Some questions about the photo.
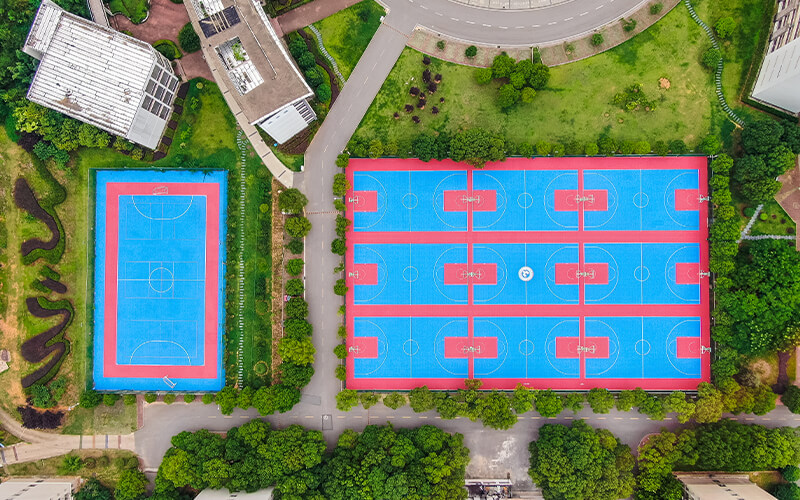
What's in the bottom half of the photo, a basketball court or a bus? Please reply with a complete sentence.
It is a basketball court that can be seen in the bottom half of the photo.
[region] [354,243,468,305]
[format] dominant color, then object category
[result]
blue basketball court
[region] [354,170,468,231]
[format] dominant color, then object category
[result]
blue basketball court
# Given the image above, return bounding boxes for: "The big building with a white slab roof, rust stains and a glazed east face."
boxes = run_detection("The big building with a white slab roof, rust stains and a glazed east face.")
[24,0,177,147]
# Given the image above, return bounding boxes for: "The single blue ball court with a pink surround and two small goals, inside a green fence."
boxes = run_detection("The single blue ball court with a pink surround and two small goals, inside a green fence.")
[94,170,227,391]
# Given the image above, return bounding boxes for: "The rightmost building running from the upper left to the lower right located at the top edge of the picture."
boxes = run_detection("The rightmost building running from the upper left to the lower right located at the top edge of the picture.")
[189,0,320,145]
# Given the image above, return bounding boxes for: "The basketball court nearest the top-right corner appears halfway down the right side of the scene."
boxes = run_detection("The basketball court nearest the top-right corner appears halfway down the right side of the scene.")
[583,169,699,231]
